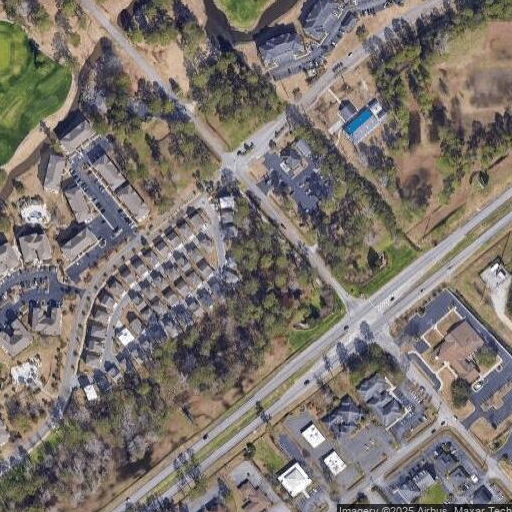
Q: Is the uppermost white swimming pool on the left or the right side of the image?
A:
left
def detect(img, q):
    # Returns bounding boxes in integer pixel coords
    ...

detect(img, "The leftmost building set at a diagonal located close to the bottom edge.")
[235,476,273,512]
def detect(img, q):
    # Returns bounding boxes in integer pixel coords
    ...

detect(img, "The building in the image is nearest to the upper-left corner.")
[58,120,96,156]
